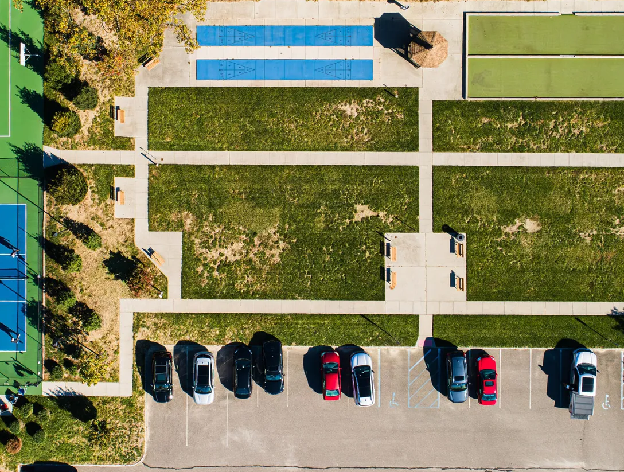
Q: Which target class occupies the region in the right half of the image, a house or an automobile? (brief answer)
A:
automobile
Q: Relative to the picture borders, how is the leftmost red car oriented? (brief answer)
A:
from top to bottom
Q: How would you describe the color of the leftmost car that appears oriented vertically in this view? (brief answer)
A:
black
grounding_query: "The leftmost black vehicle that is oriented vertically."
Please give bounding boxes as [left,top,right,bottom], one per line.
[150,350,175,401]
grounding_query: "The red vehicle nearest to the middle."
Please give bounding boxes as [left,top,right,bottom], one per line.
[319,350,342,399]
